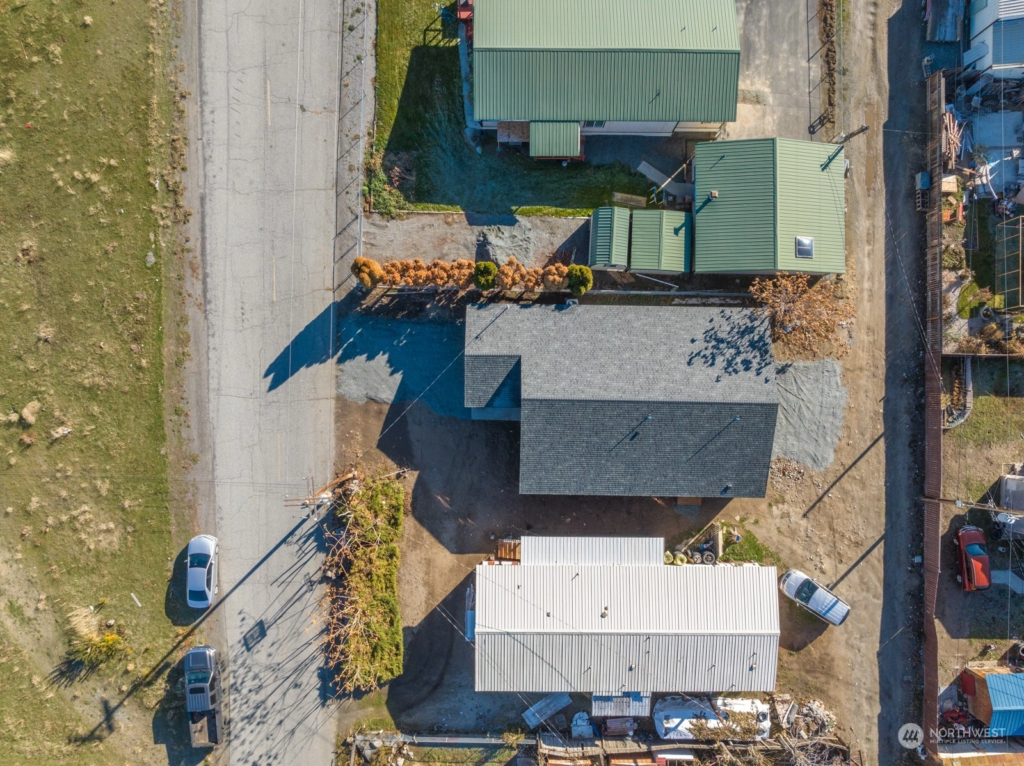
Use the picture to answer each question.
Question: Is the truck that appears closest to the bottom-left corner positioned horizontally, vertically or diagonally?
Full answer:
The truck that appears closest to the bottom-left corner is laid out vertically.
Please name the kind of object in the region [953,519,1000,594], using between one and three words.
car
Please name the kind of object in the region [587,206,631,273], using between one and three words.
shed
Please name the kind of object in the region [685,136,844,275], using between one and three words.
building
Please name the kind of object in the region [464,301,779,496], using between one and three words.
house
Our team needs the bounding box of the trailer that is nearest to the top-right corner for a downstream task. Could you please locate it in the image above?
[915,0,968,42]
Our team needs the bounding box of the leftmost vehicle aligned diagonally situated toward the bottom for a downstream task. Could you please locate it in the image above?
[778,567,856,631]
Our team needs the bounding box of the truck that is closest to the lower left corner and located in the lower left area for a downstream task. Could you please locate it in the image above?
[179,643,223,747]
